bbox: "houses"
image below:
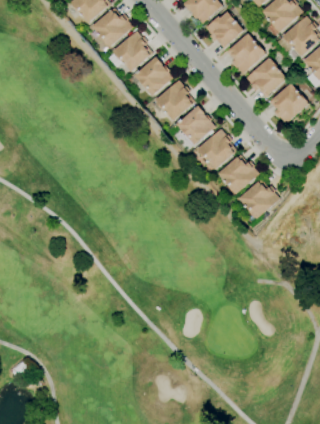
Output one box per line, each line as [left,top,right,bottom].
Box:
[70,0,112,22]
[92,8,133,46]
[283,17,320,56]
[205,8,246,46]
[269,82,310,121]
[135,57,172,96]
[220,157,260,195]
[226,32,268,70]
[177,106,214,144]
[304,46,320,78]
[188,0,224,22]
[155,81,196,120]
[246,58,288,96]
[196,130,238,168]
[240,180,280,218]
[114,31,155,70]
[264,0,304,32]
